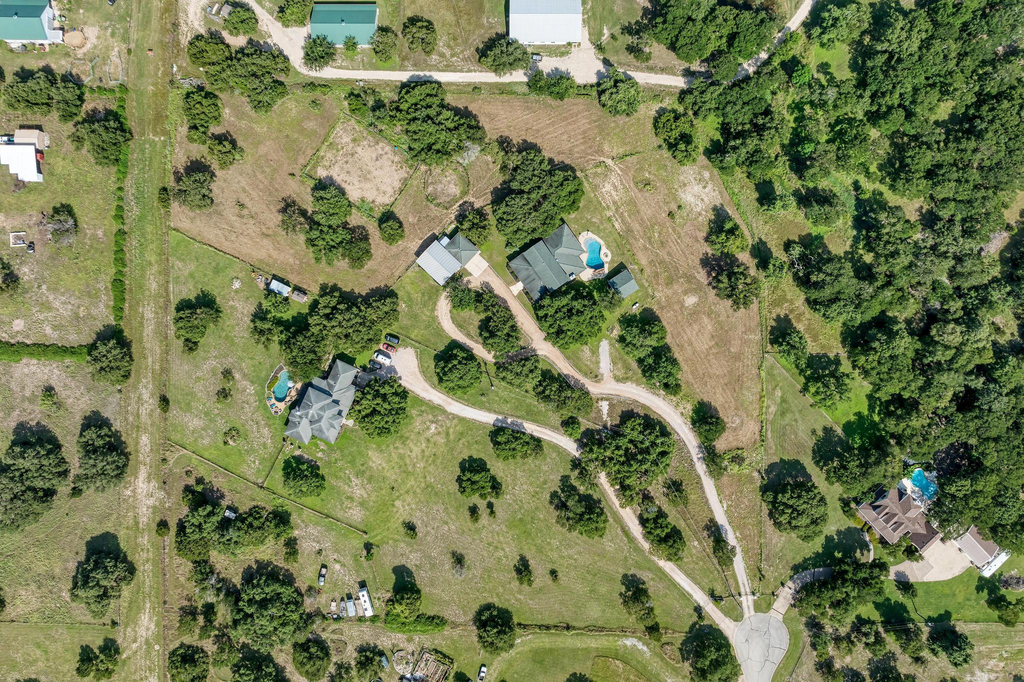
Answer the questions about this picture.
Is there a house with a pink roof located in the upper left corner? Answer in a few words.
No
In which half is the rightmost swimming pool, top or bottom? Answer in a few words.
bottom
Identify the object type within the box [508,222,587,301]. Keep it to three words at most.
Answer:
house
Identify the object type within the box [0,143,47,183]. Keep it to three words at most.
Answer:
house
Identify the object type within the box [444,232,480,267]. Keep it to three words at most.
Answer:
building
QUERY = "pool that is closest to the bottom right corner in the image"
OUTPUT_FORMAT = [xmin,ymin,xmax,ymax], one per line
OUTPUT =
[901,463,943,510]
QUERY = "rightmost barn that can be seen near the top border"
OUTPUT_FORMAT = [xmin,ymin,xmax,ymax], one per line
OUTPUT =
[509,0,582,46]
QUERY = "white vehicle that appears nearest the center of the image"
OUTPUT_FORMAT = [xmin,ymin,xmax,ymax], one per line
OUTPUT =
[374,351,392,364]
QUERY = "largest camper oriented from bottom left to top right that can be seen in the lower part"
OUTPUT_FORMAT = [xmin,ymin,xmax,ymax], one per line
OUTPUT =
[977,546,1011,578]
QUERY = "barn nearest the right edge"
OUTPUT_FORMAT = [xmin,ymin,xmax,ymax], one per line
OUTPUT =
[951,523,999,567]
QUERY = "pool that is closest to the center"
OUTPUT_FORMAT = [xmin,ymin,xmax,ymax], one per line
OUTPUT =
[579,231,611,281]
